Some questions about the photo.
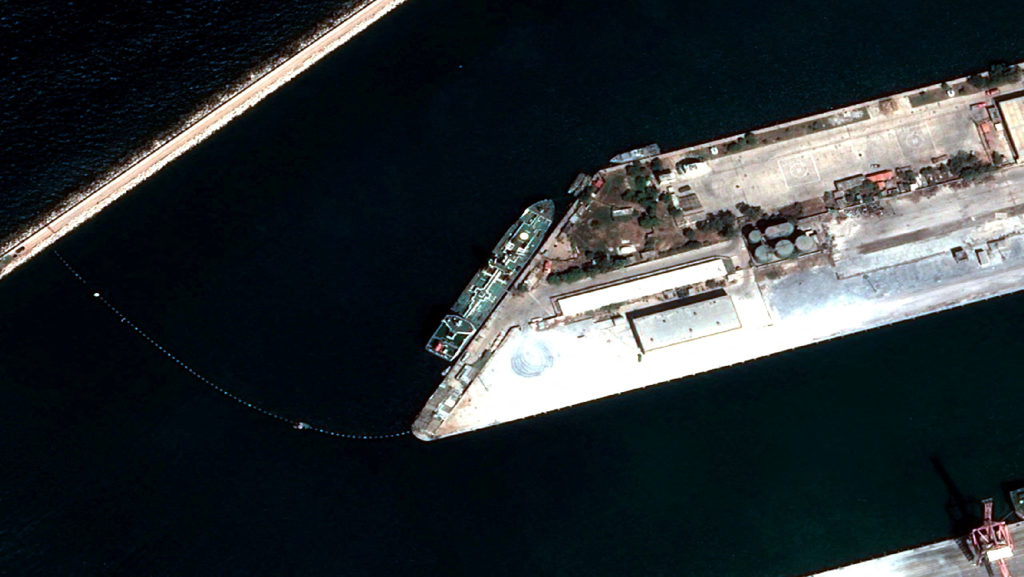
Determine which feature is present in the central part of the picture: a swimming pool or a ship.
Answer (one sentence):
It is a ship that can be seen in the central part of the picture.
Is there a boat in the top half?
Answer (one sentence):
Yes, looking in the top half, one can make out a boat.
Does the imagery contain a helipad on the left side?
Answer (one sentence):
No, the scene shows no helipad on the left side.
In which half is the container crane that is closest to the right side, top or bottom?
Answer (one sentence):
The bottom half of the photo is where the container crane that is closest to the right side is.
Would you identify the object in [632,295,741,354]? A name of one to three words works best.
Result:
building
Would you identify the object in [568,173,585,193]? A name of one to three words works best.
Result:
boat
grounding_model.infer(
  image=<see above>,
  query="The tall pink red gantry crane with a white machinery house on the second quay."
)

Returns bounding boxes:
[963,501,1013,577]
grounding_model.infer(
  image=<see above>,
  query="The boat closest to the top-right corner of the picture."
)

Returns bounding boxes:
[610,143,660,163]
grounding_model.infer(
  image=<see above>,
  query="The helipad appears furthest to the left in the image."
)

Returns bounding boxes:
[778,152,820,187]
